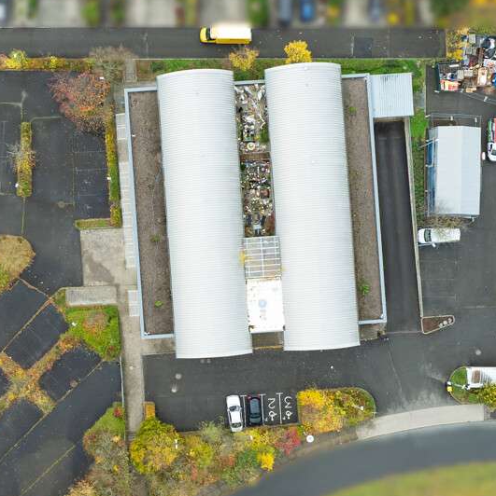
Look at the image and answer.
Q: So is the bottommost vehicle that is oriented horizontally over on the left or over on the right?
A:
right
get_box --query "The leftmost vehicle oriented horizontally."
[198,24,254,46]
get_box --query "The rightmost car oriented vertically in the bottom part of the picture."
[246,395,263,427]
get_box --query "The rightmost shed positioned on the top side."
[429,126,481,217]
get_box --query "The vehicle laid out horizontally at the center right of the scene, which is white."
[414,227,461,246]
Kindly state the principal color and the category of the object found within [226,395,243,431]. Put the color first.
white car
